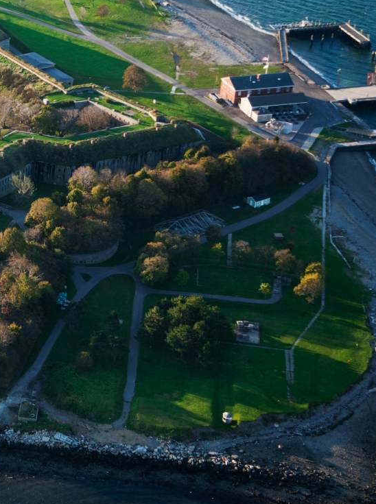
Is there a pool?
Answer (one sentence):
No, I can't see a single pool in this photo.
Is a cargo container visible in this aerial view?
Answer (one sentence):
No, the frame has no cargo container in it.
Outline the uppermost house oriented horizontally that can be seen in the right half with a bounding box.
[224,68,297,106]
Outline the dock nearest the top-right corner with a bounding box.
[339,17,372,51]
